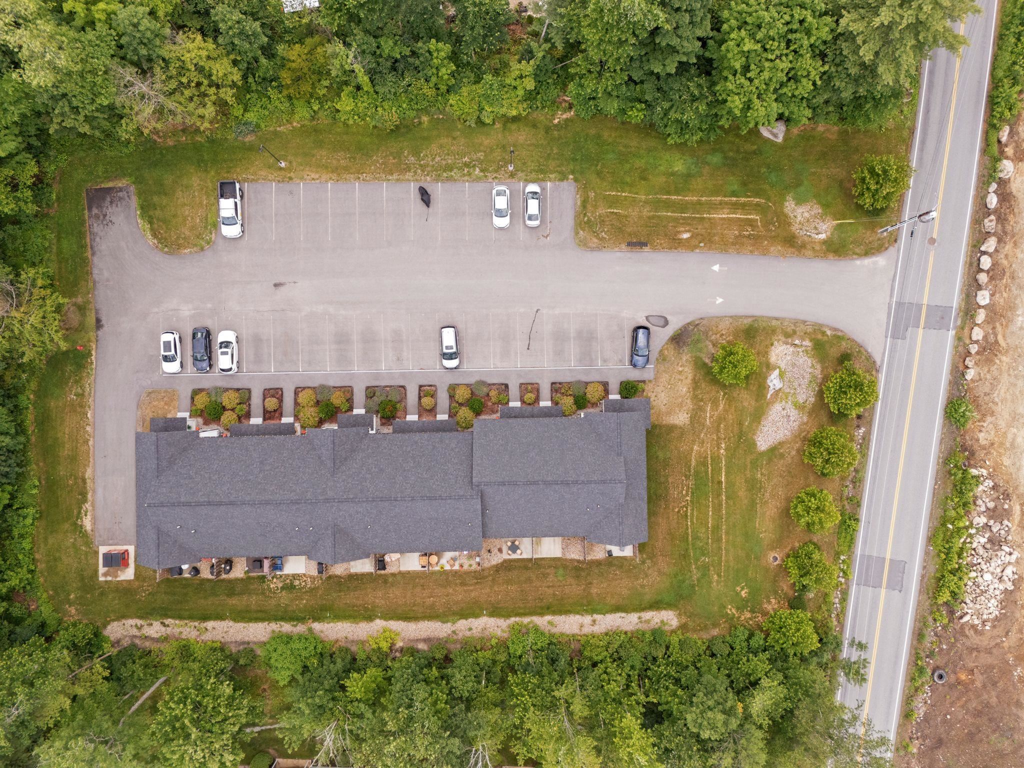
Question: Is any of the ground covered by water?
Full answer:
No, no water is visible.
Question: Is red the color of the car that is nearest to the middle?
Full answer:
No, the color of the car that is nearest to the middle is white.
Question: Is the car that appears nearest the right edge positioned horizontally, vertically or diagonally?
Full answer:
The car that appears nearest the right edge is oriented vertically.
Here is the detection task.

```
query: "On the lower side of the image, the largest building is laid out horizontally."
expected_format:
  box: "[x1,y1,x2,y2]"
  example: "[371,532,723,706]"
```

[136,398,653,568]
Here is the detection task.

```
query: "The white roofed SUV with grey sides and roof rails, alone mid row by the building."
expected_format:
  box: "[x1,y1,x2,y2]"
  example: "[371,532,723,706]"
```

[439,325,461,369]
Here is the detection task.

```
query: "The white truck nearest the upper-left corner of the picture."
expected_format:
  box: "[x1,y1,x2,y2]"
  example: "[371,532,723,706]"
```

[218,180,243,237]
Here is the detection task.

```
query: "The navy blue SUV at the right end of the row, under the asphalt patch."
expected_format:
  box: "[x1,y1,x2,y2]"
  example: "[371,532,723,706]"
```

[631,324,652,368]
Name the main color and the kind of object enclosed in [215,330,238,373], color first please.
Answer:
white car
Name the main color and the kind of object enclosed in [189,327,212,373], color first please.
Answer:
gray car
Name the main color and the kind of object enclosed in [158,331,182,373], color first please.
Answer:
white car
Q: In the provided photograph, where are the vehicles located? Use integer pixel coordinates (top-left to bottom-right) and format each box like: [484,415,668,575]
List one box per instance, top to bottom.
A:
[218,180,243,237]
[523,182,544,226]
[491,184,511,228]
[631,324,652,368]
[439,325,461,369]
[189,327,212,373]
[215,330,238,373]
[158,331,182,373]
